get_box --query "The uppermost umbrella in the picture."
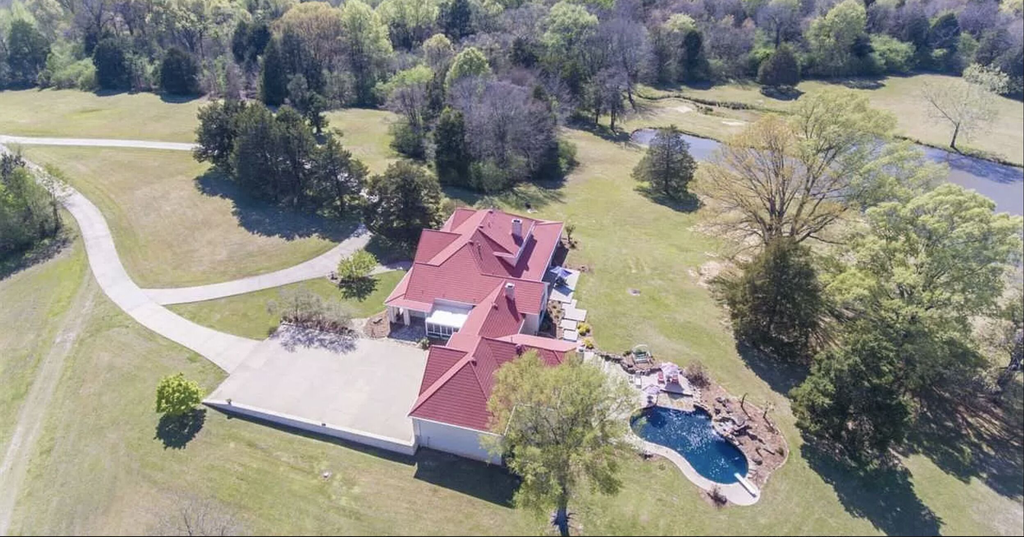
[551,268,572,287]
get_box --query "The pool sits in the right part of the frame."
[628,402,750,485]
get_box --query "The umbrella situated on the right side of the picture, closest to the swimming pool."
[642,382,662,402]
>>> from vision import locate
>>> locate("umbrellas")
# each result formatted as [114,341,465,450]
[551,268,572,287]
[661,361,683,382]
[642,382,662,402]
